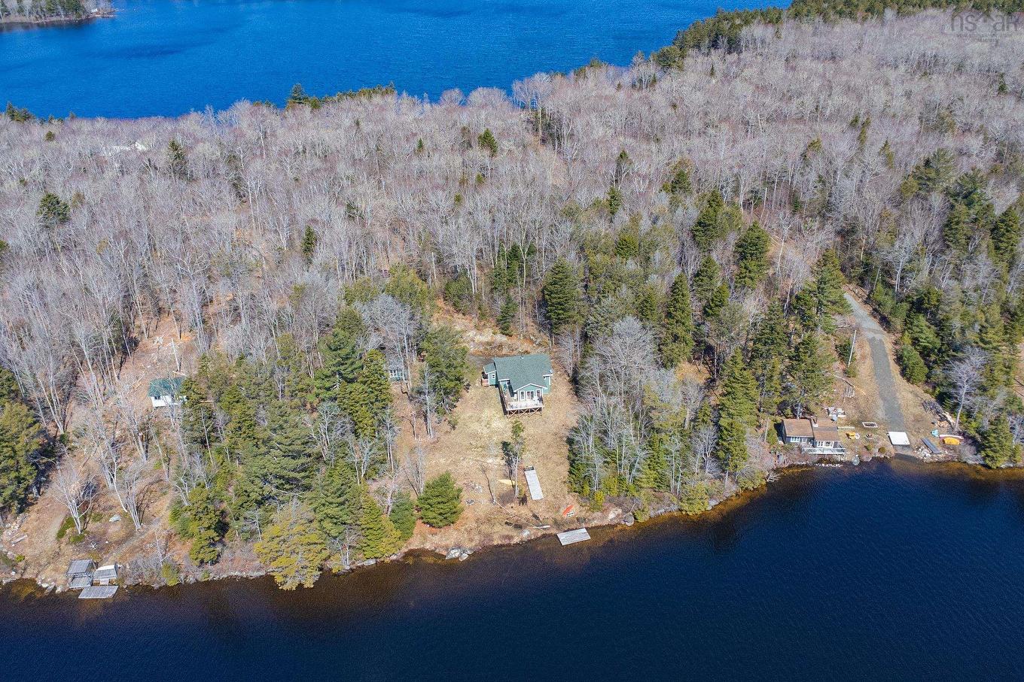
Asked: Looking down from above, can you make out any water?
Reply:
Yes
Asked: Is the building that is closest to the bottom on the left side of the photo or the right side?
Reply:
left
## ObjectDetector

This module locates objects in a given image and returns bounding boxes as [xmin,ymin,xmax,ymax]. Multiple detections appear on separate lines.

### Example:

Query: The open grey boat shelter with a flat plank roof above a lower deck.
[62,555,101,590]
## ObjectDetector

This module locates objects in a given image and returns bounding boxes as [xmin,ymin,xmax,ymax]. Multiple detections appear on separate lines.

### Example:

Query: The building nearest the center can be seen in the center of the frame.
[478,349,554,419]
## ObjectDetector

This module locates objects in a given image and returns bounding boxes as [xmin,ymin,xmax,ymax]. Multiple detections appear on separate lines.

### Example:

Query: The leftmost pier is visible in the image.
[79,586,120,600]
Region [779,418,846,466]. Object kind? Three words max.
house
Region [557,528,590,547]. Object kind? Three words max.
pier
